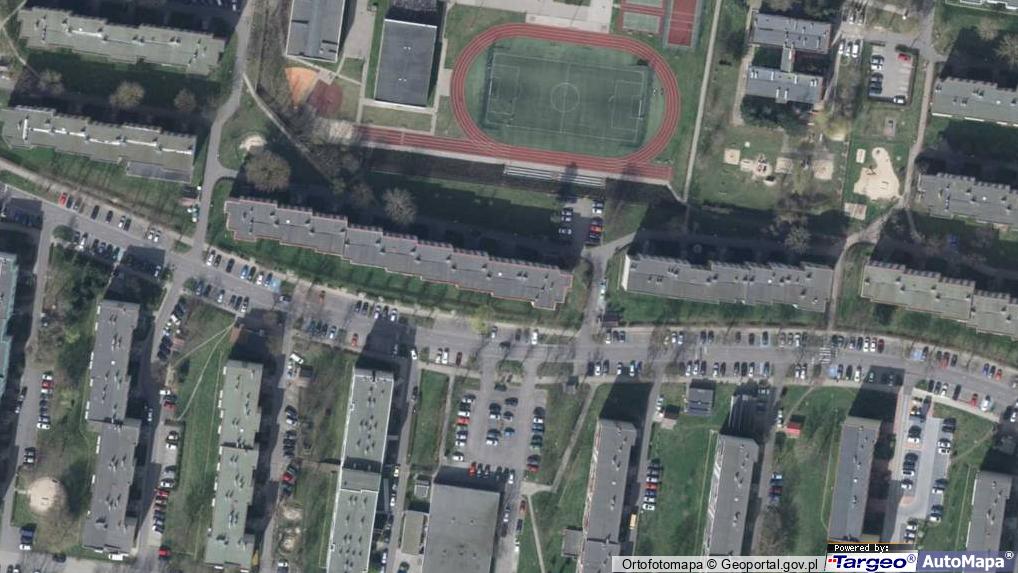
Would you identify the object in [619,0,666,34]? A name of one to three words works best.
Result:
basketball court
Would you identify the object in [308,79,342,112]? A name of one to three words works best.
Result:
sports court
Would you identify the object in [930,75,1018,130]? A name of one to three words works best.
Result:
building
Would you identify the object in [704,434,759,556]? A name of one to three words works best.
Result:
building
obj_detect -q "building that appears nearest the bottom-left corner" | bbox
[84,421,141,554]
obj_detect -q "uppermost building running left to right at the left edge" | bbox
[17,5,226,76]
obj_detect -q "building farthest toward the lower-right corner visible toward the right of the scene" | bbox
[961,472,1013,573]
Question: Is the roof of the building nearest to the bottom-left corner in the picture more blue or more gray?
gray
